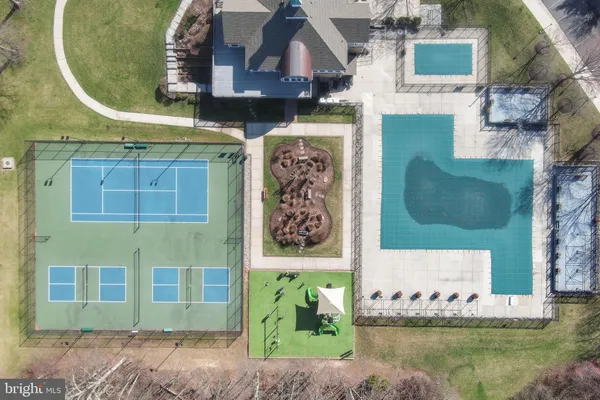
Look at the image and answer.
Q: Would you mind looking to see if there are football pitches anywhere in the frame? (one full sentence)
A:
No, the frame has no football pitch in it.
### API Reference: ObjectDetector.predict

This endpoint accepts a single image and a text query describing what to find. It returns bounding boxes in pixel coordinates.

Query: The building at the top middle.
[213,0,370,100]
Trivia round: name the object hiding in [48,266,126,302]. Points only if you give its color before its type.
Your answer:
blue sports court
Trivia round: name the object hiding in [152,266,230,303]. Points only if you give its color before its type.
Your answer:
blue sports court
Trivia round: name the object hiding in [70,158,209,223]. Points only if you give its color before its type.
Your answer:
blue tennis court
